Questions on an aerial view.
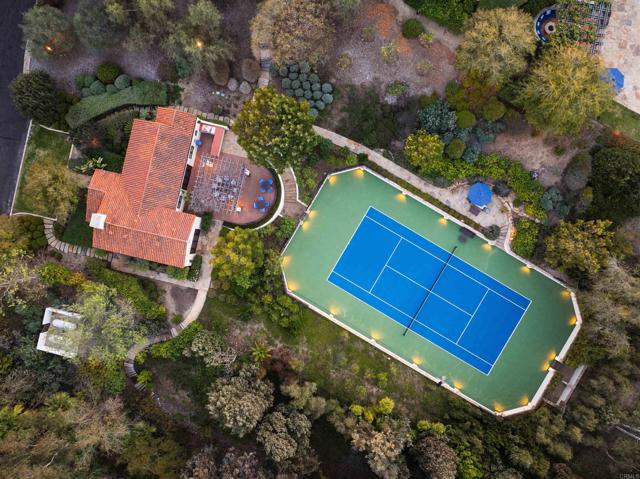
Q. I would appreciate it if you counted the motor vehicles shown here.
none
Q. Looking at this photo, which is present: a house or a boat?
house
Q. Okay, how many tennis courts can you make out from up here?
1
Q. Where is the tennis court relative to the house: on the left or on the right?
right of it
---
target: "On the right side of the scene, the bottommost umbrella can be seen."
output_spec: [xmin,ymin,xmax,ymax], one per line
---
[466,181,492,207]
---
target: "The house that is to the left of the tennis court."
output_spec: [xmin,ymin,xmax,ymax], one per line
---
[86,106,202,268]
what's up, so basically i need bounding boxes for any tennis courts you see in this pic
[283,168,577,411]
